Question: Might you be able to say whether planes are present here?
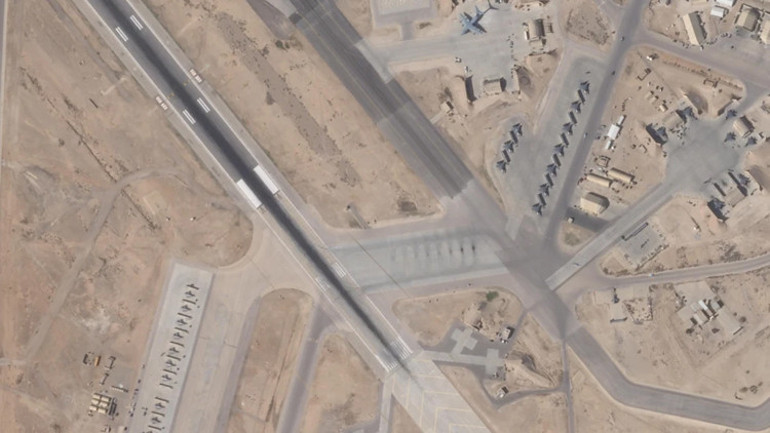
Yes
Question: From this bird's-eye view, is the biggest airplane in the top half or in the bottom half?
top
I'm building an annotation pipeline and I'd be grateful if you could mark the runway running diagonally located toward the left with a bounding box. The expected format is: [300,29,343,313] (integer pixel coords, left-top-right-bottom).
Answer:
[86,0,413,372]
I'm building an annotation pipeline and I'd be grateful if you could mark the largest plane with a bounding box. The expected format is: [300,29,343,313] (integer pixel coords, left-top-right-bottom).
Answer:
[461,8,487,35]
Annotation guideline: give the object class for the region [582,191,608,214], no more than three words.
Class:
hangar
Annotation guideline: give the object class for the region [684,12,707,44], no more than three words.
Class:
hangar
